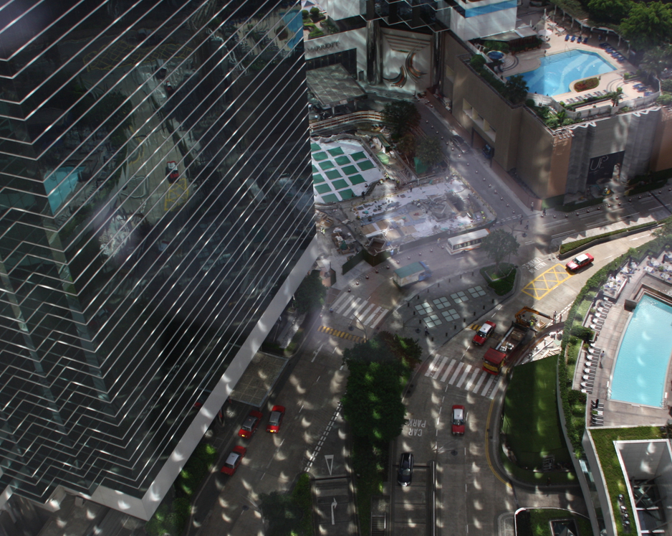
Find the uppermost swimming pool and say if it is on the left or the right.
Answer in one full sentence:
You can find the uppermost swimming pool on the right side of the picture.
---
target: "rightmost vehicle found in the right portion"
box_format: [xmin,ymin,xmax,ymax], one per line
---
[564,253,597,272]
